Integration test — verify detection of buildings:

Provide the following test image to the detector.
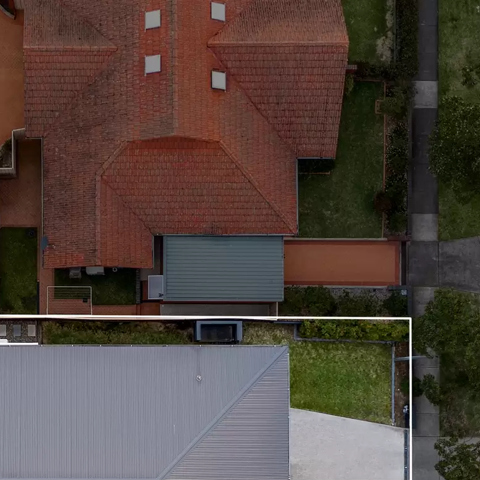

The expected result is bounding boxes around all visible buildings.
[23,0,349,270]
[0,343,293,480]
